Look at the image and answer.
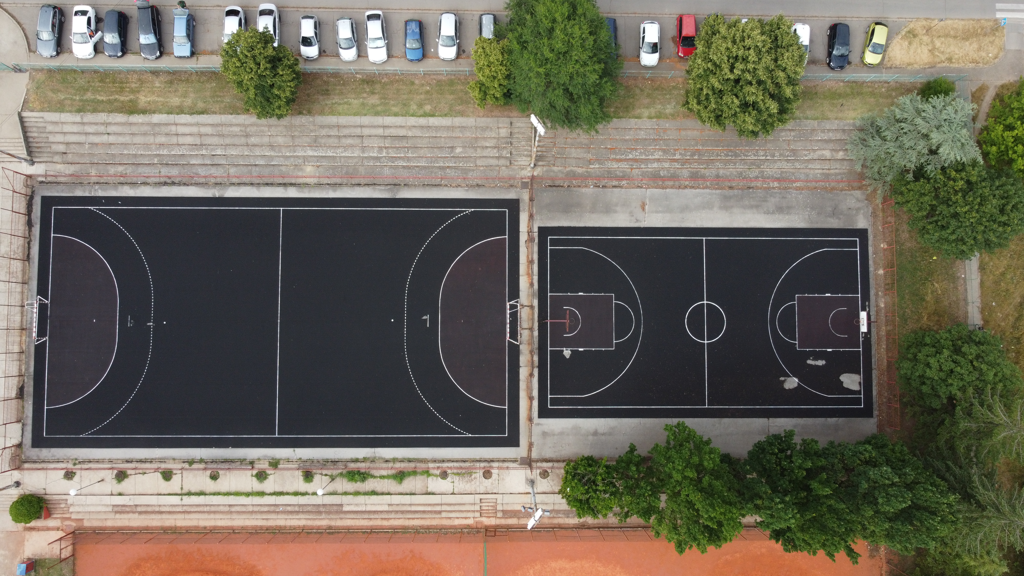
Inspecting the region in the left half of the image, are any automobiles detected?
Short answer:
Yes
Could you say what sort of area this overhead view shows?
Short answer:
sports ground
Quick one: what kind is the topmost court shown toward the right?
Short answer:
basketball court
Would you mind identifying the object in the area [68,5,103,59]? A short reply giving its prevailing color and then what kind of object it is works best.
white car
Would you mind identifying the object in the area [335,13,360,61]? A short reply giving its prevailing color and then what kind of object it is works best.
white car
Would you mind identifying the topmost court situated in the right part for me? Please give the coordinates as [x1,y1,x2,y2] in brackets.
[538,227,873,418]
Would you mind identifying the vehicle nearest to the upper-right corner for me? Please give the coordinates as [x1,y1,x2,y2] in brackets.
[860,18,891,67]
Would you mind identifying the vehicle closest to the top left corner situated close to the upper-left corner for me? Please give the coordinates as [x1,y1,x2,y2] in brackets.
[32,4,66,57]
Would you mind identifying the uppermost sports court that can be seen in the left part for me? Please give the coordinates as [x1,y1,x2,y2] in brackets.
[31,196,519,448]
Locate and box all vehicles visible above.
[860,18,891,67]
[296,12,322,59]
[787,19,813,66]
[219,8,245,48]
[32,4,66,57]
[475,14,497,44]
[364,9,389,63]
[100,8,130,58]
[335,13,360,61]
[677,12,700,58]
[402,16,426,62]
[638,18,662,66]
[824,20,852,70]
[435,10,459,60]
[131,0,165,60]
[169,9,196,58]
[68,5,103,59]
[257,6,281,43]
